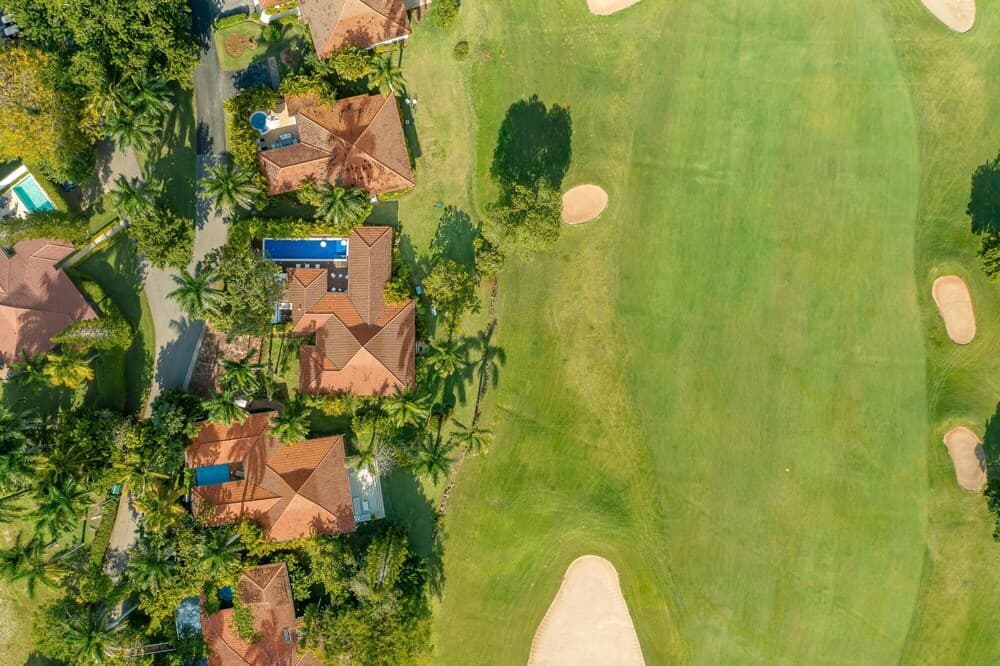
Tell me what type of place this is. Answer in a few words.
golf course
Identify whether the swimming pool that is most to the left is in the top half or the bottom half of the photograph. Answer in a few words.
top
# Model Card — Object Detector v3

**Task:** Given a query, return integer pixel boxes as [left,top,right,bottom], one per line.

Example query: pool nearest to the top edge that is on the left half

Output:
[250,111,269,133]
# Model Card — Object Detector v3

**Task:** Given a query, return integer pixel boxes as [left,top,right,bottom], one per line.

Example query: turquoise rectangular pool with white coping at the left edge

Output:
[10,172,57,226]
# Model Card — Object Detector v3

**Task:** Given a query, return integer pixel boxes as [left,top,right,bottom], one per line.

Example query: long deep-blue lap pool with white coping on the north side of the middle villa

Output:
[264,238,348,261]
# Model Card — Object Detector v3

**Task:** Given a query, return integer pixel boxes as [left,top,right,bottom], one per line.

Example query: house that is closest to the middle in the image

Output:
[261,227,415,395]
